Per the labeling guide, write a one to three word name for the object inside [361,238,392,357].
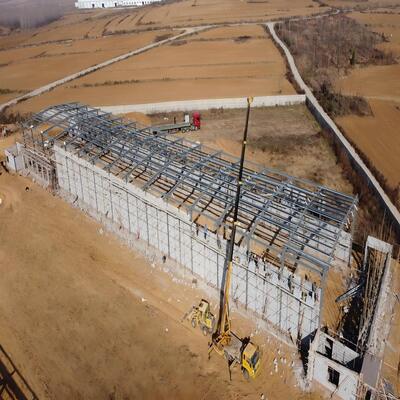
building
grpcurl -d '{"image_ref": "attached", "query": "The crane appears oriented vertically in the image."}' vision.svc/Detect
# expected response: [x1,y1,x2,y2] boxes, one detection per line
[202,99,264,377]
